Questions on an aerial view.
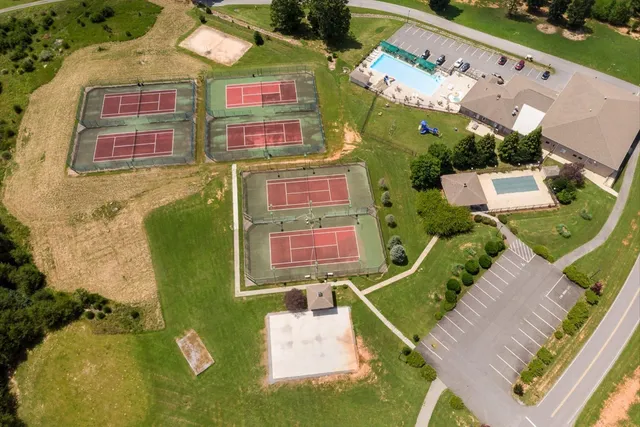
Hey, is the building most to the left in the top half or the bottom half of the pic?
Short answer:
bottom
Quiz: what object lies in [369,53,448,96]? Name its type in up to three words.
swimming pool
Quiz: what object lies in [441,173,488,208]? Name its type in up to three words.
building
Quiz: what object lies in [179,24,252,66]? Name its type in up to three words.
sports court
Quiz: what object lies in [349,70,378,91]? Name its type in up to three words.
shed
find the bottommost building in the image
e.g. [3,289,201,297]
[306,283,334,313]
